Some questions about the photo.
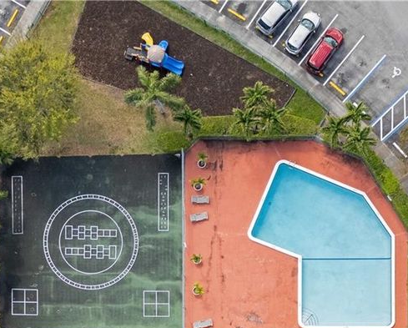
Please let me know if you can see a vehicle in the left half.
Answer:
No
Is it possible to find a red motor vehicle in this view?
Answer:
Yes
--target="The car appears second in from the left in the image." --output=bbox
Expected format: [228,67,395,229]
[284,10,322,57]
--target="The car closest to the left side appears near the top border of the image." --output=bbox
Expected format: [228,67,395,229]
[254,0,300,41]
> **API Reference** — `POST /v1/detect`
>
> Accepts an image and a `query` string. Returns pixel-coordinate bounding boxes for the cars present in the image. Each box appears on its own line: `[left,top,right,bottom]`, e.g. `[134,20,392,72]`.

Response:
[284,10,322,57]
[305,25,347,77]
[254,0,300,41]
